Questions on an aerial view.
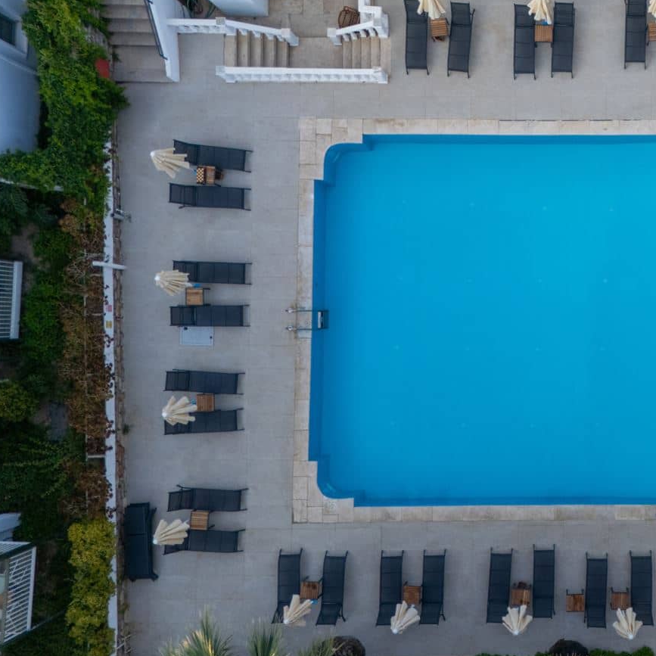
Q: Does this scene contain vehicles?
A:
No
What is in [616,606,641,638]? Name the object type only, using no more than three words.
umbrella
